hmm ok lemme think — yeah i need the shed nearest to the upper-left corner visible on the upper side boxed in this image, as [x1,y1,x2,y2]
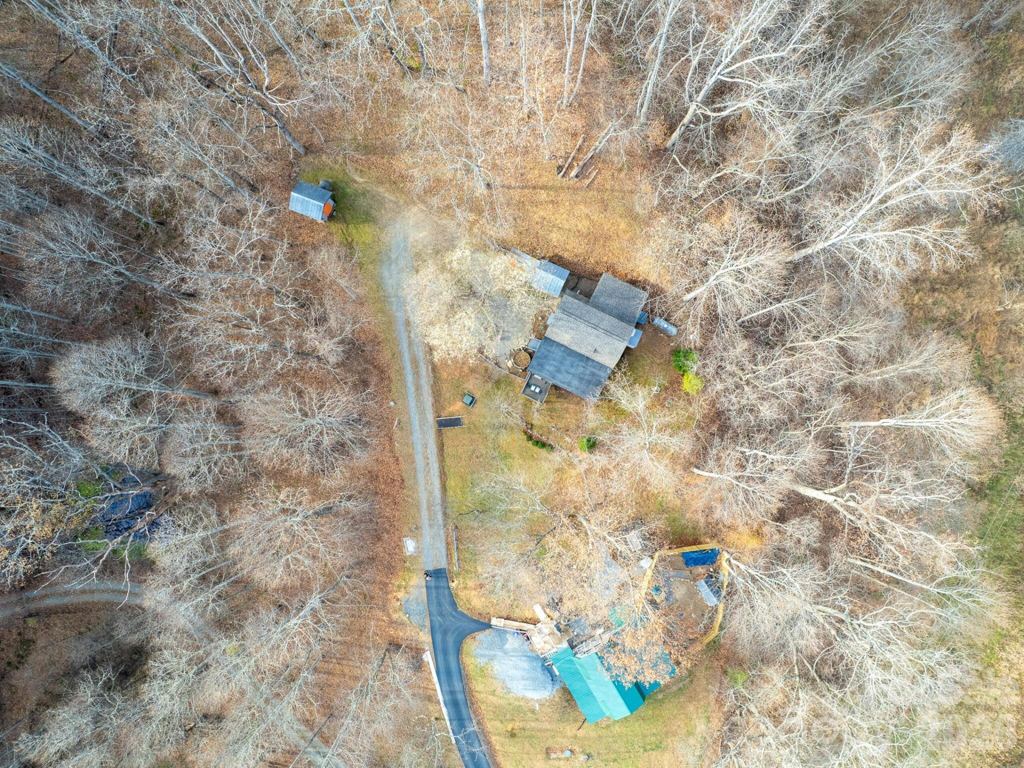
[289,181,339,224]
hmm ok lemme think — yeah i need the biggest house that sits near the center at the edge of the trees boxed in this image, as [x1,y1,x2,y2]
[526,273,648,401]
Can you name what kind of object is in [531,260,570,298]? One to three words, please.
shed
